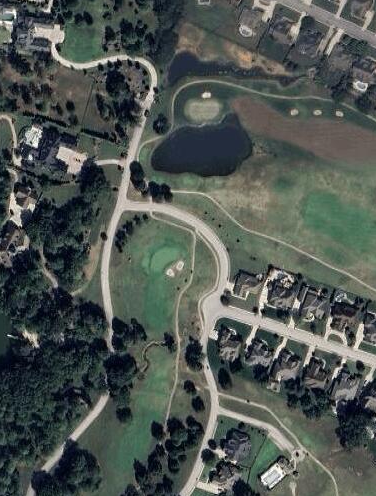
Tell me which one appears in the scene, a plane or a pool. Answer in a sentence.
The image shows a pool.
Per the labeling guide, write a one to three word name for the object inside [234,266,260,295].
house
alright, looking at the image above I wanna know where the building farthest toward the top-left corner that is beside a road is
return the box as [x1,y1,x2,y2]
[14,17,53,50]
